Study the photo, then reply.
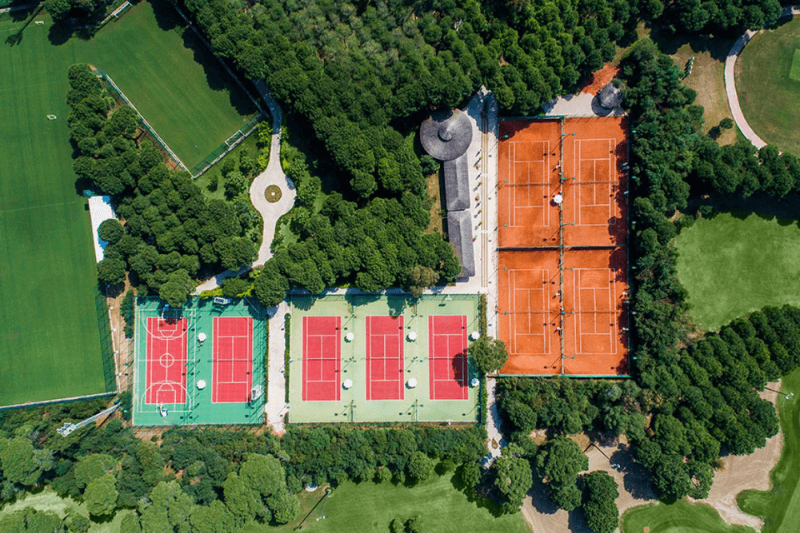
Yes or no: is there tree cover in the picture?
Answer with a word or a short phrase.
Yes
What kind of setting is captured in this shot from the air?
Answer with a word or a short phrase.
sports ground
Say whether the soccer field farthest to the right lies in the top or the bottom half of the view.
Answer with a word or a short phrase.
top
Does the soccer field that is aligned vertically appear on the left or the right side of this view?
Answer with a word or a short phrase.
left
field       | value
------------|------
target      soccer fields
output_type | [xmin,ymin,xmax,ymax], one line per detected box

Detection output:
[84,0,257,171]
[0,7,118,407]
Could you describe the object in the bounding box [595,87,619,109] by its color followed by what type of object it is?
gray gazebo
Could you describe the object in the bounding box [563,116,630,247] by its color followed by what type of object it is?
orange tennis court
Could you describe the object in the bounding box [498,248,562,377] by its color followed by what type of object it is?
orange tennis court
